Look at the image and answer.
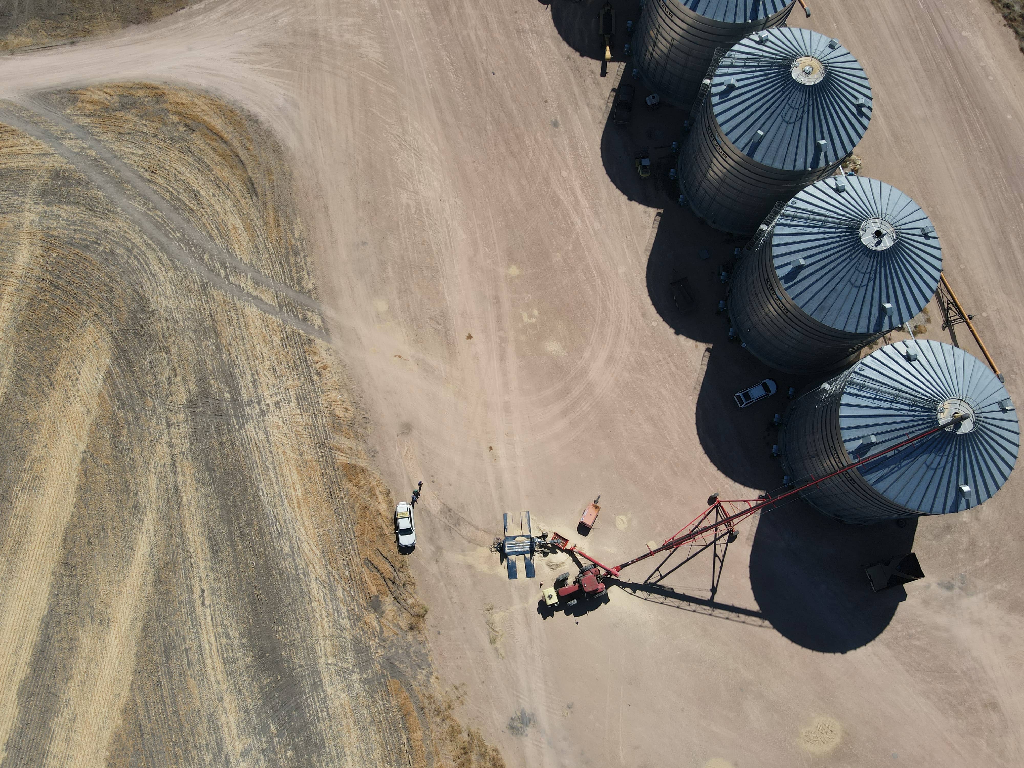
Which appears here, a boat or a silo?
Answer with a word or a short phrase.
silo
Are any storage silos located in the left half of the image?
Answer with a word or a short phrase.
No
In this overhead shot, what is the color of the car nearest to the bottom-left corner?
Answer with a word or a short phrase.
white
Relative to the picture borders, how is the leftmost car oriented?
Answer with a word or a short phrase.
from top to bottom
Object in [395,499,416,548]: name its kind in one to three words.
car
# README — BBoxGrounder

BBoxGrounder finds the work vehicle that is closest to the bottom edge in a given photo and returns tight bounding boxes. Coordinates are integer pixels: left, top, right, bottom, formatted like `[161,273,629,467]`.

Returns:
[542,561,609,609]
